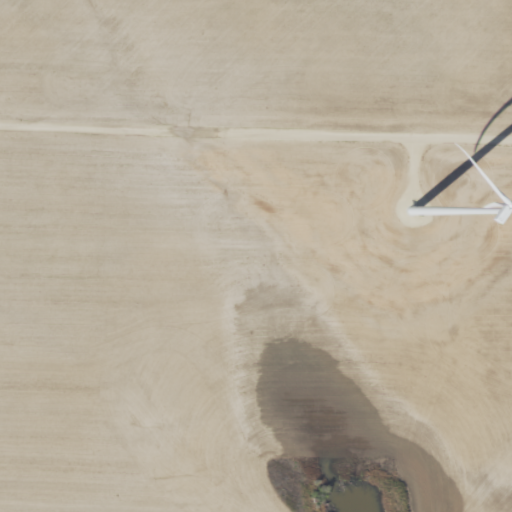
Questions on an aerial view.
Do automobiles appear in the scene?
No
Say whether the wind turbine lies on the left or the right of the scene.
right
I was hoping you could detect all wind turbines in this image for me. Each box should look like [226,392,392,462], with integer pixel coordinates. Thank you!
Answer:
[406,143,512,224]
